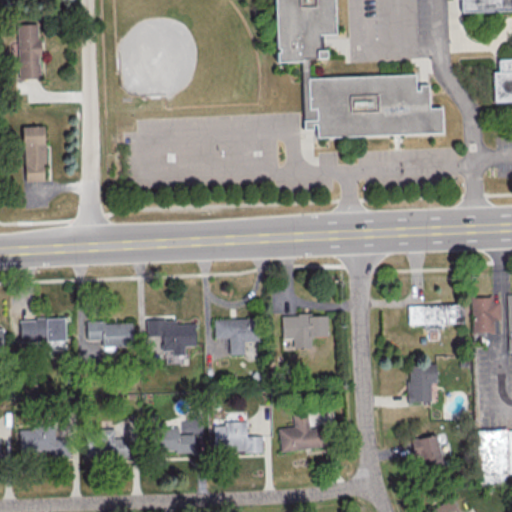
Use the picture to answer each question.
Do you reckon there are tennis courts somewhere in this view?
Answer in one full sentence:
No, the picture doesn't show any tennis court.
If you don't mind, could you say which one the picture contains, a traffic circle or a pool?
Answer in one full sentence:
Looking from above, you can make out a pool.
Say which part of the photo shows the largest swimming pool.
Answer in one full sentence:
The largest swimming pool is in the bottom right part of the image.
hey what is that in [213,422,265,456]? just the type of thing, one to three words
house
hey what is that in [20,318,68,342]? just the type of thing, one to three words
house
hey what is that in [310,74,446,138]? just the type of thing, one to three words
building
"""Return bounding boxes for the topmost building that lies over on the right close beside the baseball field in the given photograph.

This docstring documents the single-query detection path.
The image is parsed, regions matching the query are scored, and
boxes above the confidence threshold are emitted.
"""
[278,0,337,62]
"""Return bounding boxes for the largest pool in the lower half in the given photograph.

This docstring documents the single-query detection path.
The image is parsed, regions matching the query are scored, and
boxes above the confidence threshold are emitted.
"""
[443,390,469,422]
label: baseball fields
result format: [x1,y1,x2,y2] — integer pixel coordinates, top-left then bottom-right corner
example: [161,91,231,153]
[114,0,262,110]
